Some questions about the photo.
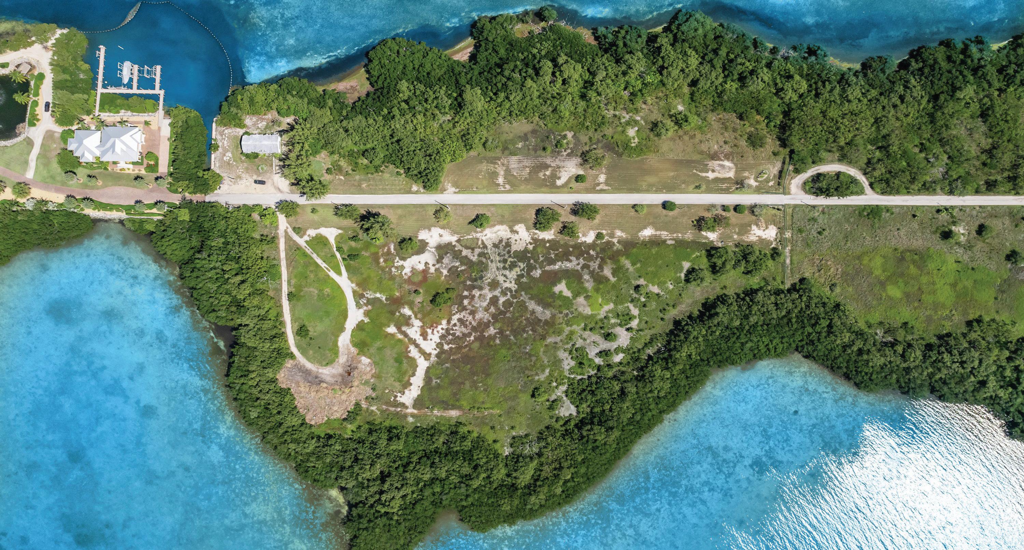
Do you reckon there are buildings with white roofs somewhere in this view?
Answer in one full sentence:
Yes, there's a building with a white roof here.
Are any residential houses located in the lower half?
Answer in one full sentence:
No, I can find no residential house in the lower half.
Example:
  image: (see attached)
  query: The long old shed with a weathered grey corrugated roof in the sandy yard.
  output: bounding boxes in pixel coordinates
[241,134,281,153]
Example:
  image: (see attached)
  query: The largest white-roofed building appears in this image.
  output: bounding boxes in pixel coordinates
[68,123,145,169]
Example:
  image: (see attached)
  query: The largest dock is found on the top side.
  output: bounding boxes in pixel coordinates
[95,45,167,127]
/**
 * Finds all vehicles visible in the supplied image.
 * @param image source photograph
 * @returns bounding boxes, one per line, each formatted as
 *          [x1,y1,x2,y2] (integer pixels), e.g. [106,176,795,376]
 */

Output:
[254,180,266,185]
[44,101,51,112]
